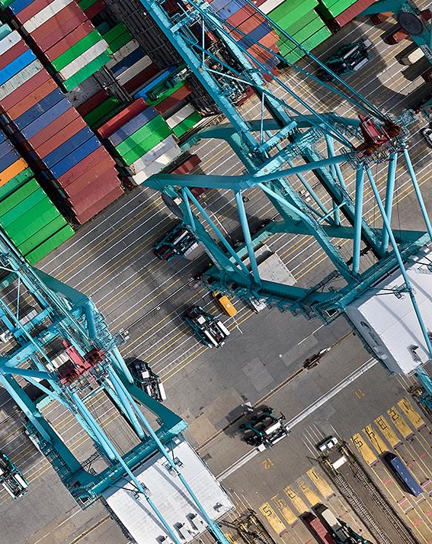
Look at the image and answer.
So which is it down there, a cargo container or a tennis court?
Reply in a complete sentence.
I can see a cargo container in this picture.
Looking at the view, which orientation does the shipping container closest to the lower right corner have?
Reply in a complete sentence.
The shipping container closest to the lower right corner has been laid out at an angle relative to the frame.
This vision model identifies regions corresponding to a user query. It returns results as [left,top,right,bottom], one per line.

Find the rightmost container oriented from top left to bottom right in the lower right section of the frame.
[385,453,424,496]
